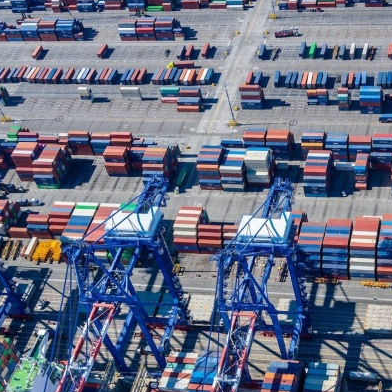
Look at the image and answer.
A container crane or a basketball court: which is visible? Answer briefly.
container crane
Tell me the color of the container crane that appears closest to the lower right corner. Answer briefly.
blue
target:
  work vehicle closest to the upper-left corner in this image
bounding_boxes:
[15,8,30,24]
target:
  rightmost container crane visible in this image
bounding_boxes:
[200,181,312,392]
